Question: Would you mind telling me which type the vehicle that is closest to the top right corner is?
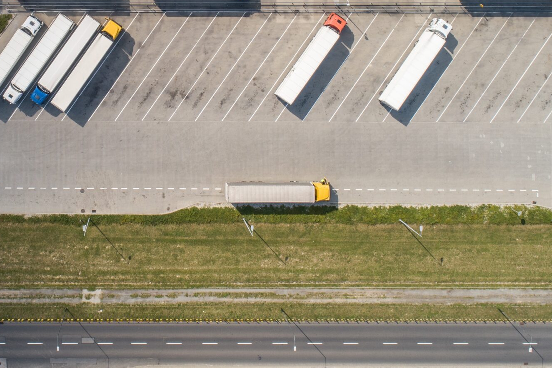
truck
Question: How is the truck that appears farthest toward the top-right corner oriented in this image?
at an angle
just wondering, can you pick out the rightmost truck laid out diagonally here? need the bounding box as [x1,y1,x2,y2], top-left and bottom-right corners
[379,17,453,111]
